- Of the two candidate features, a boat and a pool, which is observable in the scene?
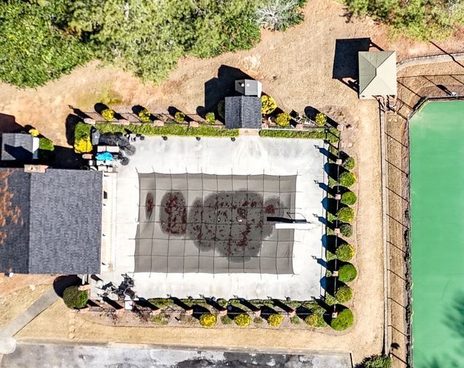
pool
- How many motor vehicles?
zero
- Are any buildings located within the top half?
Yes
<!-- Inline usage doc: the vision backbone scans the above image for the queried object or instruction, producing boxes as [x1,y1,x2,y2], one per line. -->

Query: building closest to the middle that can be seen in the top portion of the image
[221,96,261,130]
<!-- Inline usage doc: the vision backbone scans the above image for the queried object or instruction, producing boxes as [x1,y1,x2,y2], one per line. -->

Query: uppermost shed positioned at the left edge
[1,133,43,161]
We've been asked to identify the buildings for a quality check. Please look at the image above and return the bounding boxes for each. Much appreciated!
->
[1,133,43,161]
[359,51,397,100]
[0,162,123,281]
[221,96,261,130]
